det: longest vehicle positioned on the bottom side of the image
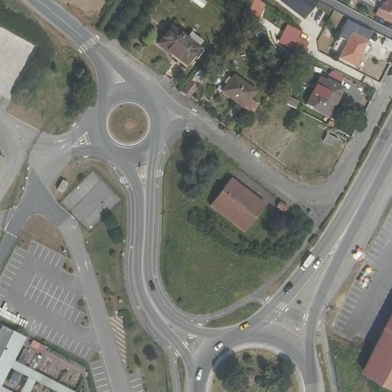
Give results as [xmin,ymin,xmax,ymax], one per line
[300,252,316,271]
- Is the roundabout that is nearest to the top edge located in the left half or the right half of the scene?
left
